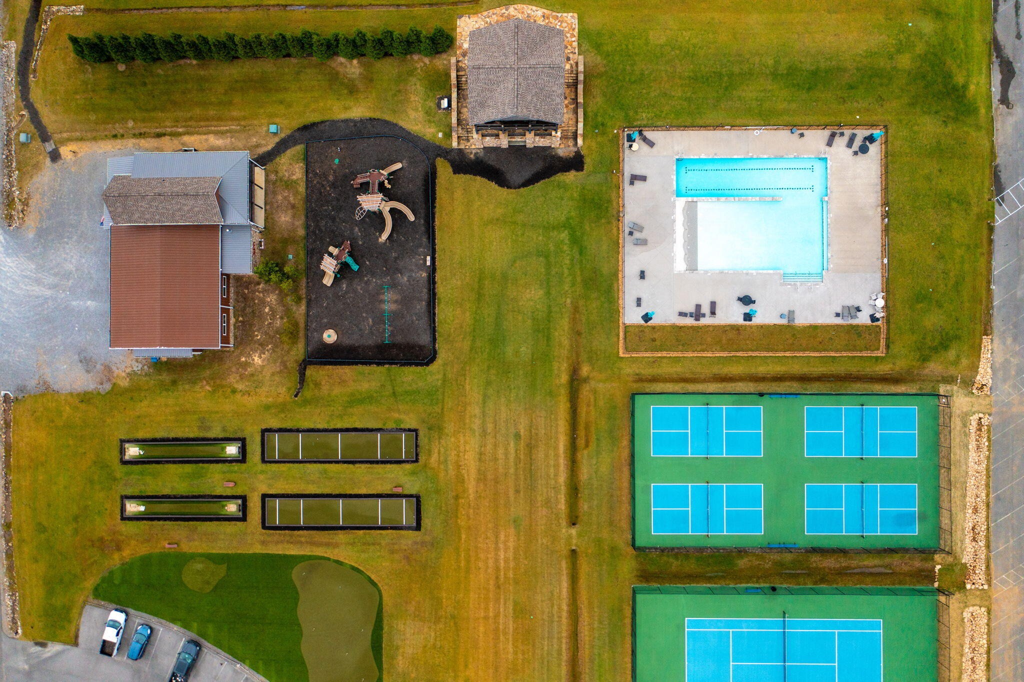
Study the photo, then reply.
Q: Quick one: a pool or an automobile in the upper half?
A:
pool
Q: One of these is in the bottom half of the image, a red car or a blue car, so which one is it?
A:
blue car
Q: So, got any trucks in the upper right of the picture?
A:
No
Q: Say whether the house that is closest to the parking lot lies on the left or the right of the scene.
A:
left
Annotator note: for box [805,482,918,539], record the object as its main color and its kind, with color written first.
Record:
blue sports court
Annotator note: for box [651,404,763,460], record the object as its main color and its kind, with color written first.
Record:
blue sports court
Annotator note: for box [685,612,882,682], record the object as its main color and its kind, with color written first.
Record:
blue tennis court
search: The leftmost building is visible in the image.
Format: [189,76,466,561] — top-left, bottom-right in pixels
[101,148,265,358]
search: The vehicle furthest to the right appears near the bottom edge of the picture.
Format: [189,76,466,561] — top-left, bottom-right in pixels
[169,636,203,682]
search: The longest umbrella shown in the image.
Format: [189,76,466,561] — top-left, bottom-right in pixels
[865,130,888,145]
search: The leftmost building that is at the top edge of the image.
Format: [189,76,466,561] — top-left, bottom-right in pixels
[451,5,584,148]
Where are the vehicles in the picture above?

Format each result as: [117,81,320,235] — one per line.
[127,621,155,661]
[98,605,131,658]
[169,636,203,682]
